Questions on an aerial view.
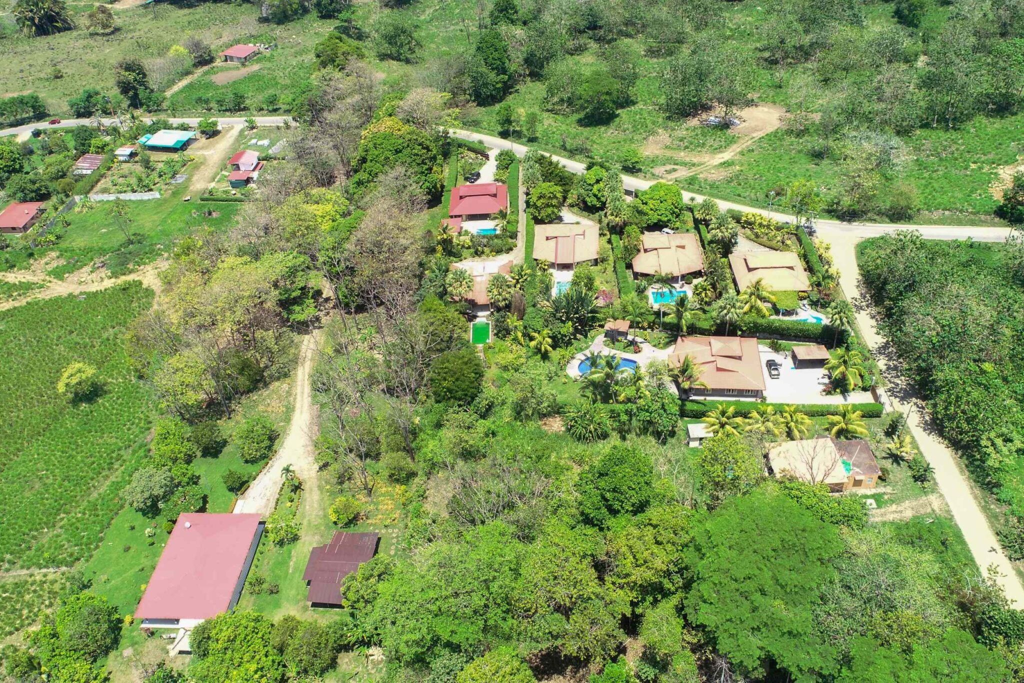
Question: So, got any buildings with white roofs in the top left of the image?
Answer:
Yes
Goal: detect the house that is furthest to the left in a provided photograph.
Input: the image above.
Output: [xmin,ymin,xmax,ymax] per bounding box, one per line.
[0,202,44,236]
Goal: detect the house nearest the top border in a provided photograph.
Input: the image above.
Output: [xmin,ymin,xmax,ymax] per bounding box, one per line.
[220,45,258,63]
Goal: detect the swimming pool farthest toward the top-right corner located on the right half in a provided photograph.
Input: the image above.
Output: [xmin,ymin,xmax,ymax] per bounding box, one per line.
[777,315,825,327]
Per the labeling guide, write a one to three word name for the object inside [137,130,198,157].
house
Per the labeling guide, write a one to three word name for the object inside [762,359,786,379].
vehicle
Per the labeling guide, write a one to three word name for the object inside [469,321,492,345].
swimming pool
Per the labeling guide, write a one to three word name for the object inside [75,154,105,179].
barn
